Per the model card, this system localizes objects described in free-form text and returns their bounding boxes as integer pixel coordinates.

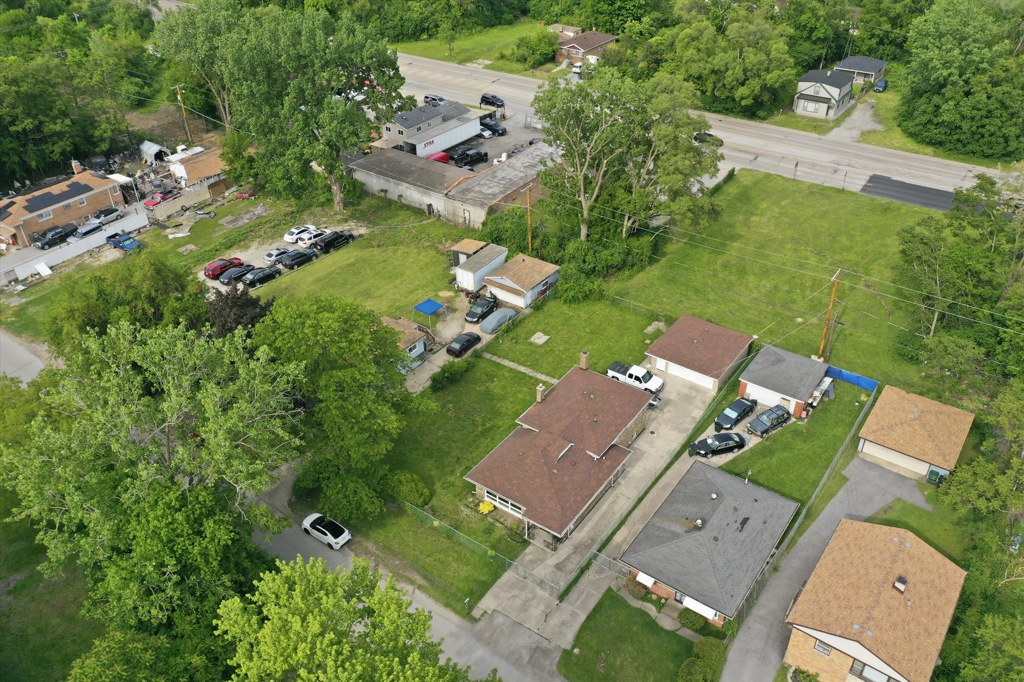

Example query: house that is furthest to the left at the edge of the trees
[0,158,123,250]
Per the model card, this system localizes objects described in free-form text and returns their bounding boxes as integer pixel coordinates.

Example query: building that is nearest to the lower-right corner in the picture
[782,518,969,682]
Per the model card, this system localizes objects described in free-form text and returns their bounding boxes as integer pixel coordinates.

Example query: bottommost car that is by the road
[300,513,351,548]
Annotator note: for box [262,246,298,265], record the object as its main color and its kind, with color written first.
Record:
gray car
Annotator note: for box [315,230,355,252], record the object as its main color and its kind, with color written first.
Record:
black car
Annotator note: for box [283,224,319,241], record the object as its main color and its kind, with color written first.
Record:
white car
